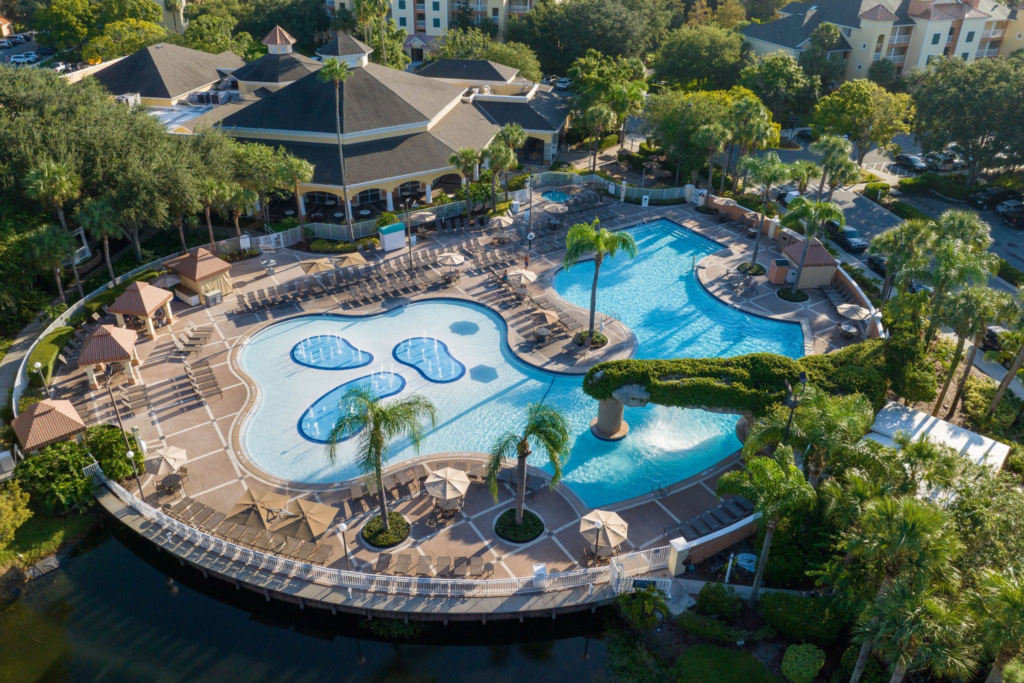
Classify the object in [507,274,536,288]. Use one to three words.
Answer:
umbrella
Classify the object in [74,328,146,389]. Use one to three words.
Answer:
gazebo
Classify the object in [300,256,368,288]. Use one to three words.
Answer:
umbrella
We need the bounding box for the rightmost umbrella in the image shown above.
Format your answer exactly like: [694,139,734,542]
[837,309,873,329]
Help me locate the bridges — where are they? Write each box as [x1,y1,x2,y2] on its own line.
[577,356,826,454]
